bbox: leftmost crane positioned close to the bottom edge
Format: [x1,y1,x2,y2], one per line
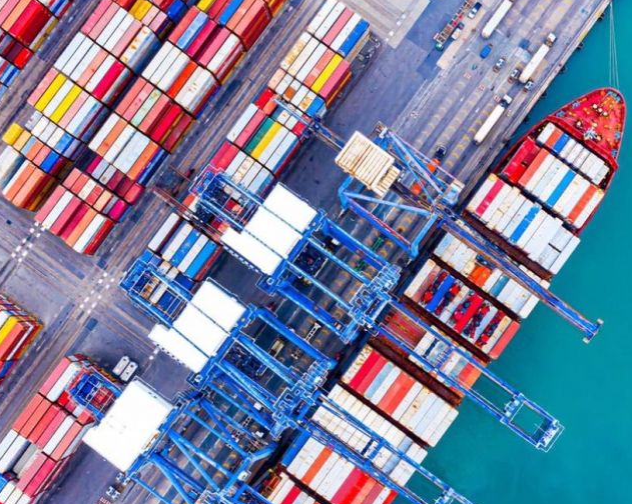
[59,358,287,504]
